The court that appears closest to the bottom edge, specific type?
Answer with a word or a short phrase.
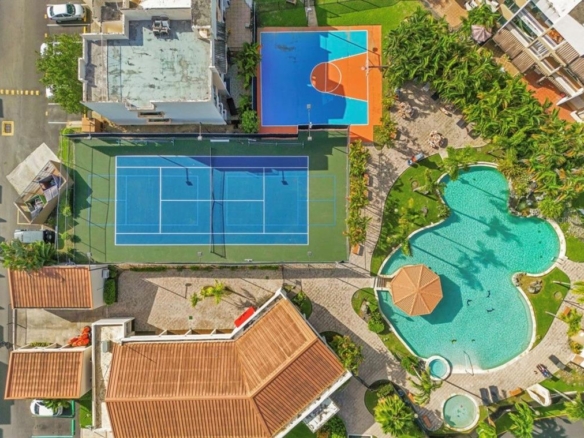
tennis court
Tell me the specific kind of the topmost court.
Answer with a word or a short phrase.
basketball court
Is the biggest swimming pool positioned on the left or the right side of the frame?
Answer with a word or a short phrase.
right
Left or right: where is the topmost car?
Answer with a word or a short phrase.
left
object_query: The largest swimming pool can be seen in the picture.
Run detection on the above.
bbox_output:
[373,161,572,375]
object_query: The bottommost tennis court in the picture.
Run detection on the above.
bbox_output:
[73,138,346,263]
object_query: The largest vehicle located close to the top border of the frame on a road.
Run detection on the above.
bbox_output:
[48,2,87,23]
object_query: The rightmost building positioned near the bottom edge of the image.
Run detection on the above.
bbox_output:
[90,291,355,438]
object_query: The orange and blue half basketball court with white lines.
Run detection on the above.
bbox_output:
[258,26,381,141]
